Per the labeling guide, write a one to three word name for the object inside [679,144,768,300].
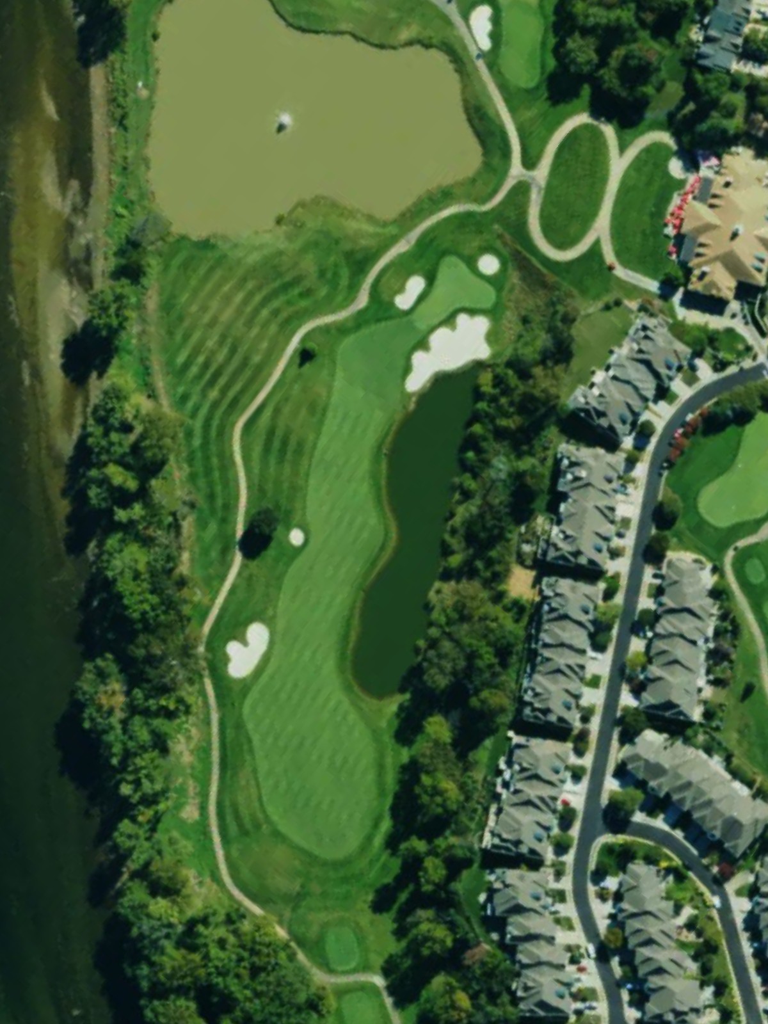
building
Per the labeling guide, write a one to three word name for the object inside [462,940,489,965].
shed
